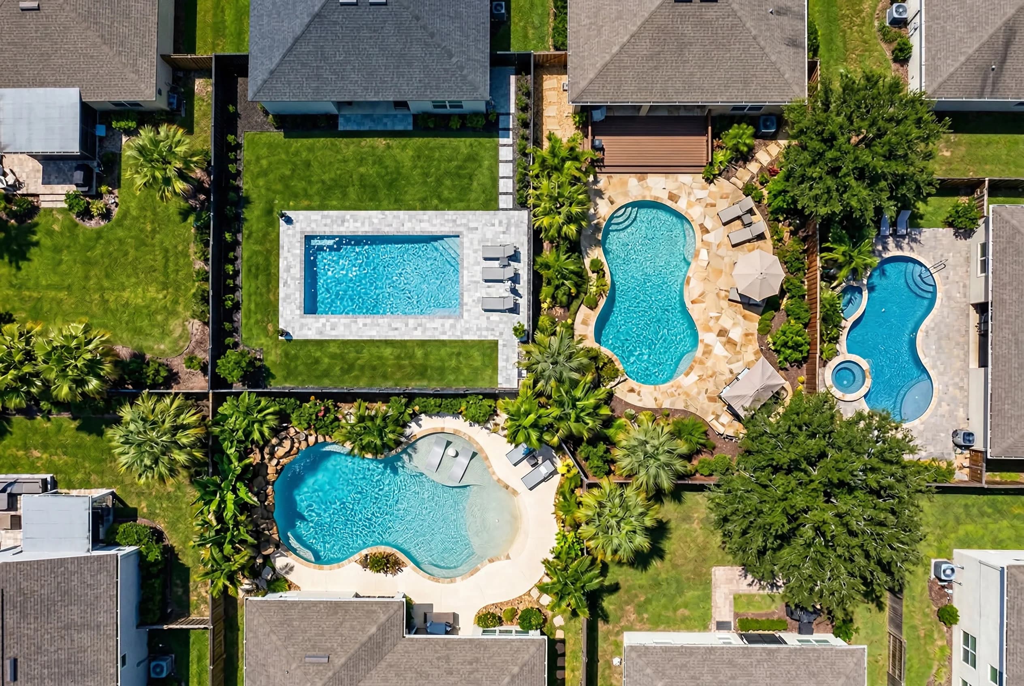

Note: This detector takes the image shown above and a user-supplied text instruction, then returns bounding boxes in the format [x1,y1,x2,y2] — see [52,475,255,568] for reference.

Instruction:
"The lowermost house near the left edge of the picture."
[0,547,139,686]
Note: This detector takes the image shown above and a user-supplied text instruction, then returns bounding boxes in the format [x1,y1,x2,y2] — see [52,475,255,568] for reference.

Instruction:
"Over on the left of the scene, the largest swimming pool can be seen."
[274,429,521,583]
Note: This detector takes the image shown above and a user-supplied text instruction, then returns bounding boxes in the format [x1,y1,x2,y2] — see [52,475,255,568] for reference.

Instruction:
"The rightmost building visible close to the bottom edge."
[954,550,1024,686]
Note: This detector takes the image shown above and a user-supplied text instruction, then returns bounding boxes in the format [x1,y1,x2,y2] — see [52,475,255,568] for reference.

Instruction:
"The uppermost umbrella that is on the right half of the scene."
[729,248,785,303]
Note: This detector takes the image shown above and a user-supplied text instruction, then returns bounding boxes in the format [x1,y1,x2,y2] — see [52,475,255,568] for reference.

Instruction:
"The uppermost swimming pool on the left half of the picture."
[300,231,464,318]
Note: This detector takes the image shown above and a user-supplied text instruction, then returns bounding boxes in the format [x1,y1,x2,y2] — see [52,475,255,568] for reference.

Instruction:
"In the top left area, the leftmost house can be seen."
[0,0,173,110]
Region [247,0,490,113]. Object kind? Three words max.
house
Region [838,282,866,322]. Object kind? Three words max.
swimming pool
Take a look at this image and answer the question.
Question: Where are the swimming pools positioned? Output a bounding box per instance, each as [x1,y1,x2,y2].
[838,282,866,322]
[300,231,464,318]
[590,195,704,390]
[842,251,942,428]
[274,429,521,583]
